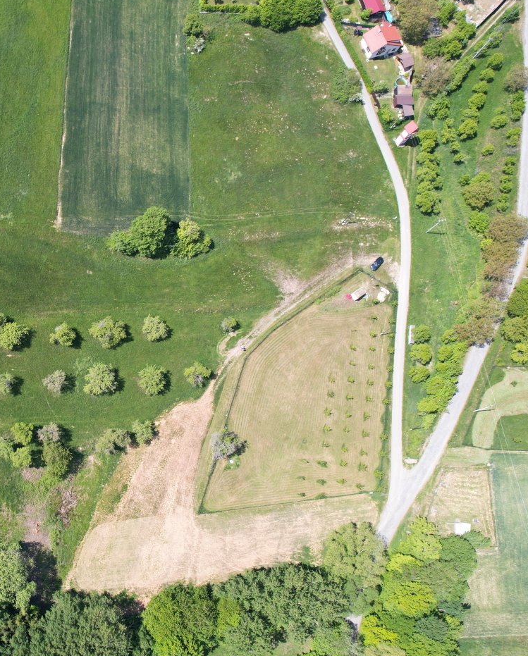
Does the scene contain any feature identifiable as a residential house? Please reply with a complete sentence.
Yes, the image includes a residential house.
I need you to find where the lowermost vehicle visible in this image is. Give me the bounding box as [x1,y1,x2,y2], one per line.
[370,256,384,271]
